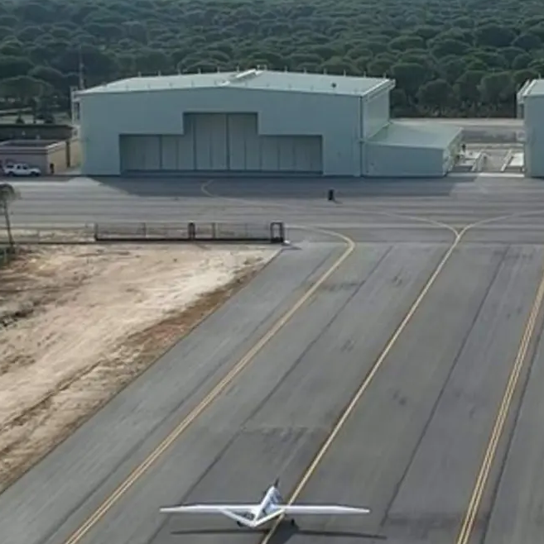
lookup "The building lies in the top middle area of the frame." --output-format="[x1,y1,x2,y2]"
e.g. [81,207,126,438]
[70,65,464,177]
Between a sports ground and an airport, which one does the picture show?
airport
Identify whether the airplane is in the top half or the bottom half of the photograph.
bottom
